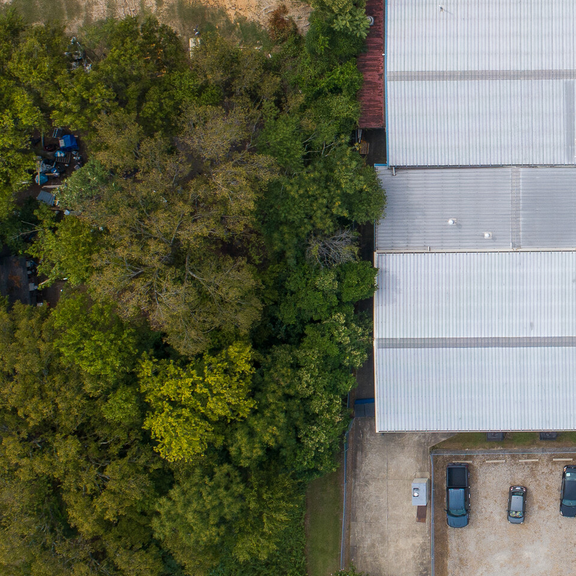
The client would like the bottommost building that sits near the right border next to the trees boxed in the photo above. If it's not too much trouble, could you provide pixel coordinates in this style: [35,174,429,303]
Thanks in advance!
[372,249,576,435]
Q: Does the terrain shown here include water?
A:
No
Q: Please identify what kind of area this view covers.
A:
industrial area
